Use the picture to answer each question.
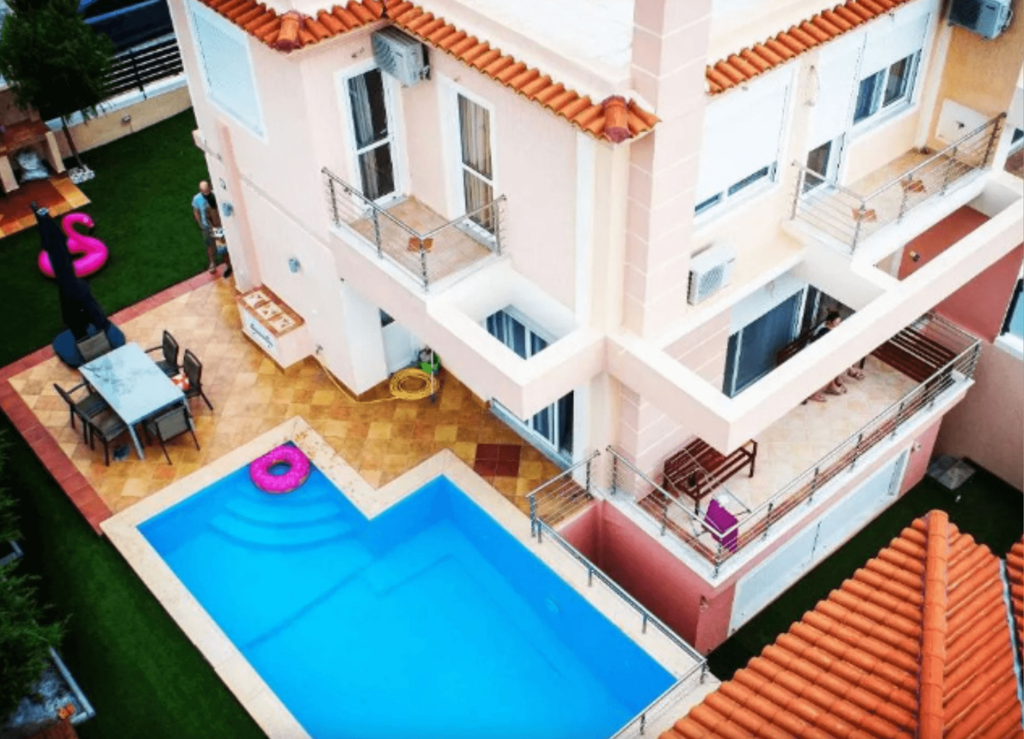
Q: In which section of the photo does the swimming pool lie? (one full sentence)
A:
You can find the swimming pool in the bottom area of the picture.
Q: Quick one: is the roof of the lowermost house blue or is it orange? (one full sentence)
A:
The color of the roof of the lowermost house is orange.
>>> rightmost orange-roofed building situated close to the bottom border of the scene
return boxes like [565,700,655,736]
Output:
[650,496,1024,739]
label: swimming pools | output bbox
[100,415,723,739]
